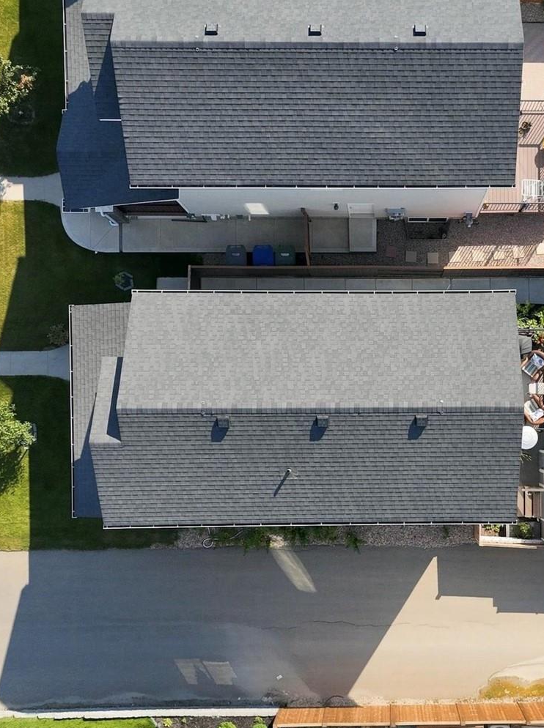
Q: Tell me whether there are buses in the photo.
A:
No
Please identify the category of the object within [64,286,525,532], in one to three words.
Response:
house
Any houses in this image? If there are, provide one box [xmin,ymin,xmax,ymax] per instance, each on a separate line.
[57,0,523,252]
[64,286,525,532]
